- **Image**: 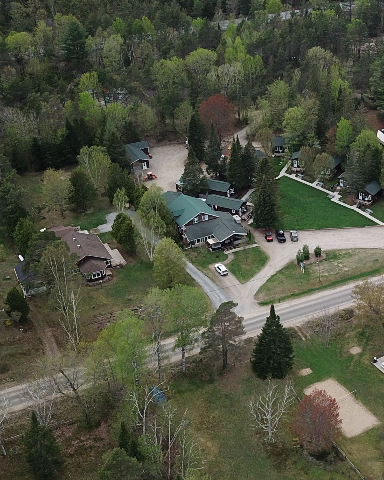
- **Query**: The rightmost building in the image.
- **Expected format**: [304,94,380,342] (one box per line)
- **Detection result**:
[356,180,384,207]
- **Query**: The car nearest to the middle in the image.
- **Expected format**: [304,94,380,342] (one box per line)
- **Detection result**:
[214,264,229,277]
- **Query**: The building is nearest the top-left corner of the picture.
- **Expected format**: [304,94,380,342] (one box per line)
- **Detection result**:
[121,141,149,172]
